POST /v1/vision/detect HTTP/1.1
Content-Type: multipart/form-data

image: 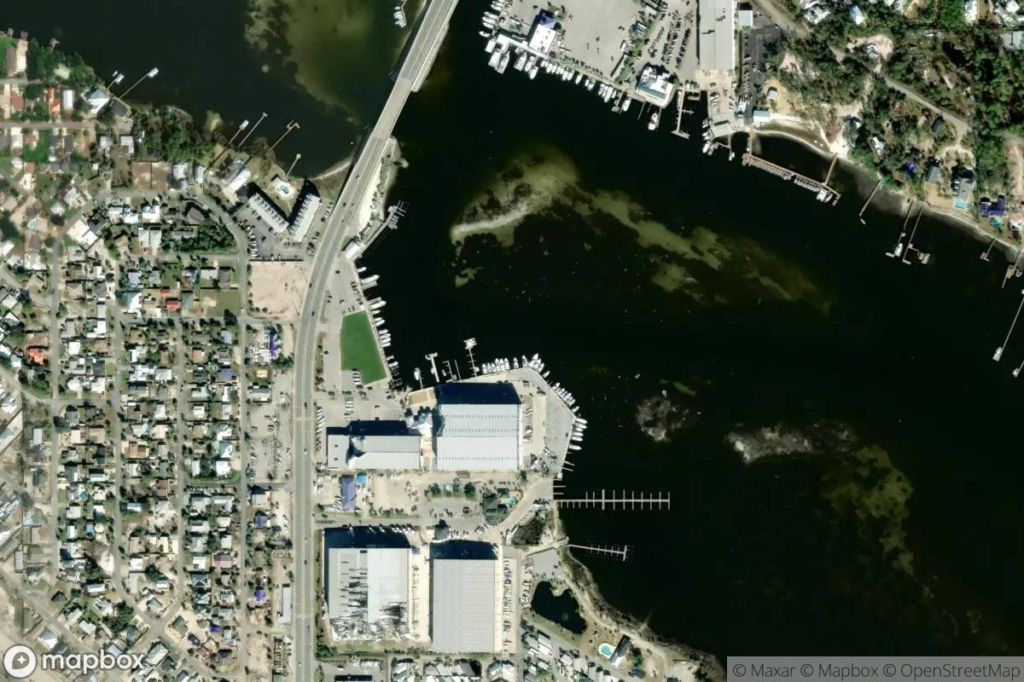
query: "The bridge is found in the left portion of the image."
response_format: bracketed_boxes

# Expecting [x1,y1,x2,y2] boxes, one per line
[368,72,413,146]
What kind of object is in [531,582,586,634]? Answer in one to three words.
pond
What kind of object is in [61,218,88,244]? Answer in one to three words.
house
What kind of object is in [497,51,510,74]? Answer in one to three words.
boat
